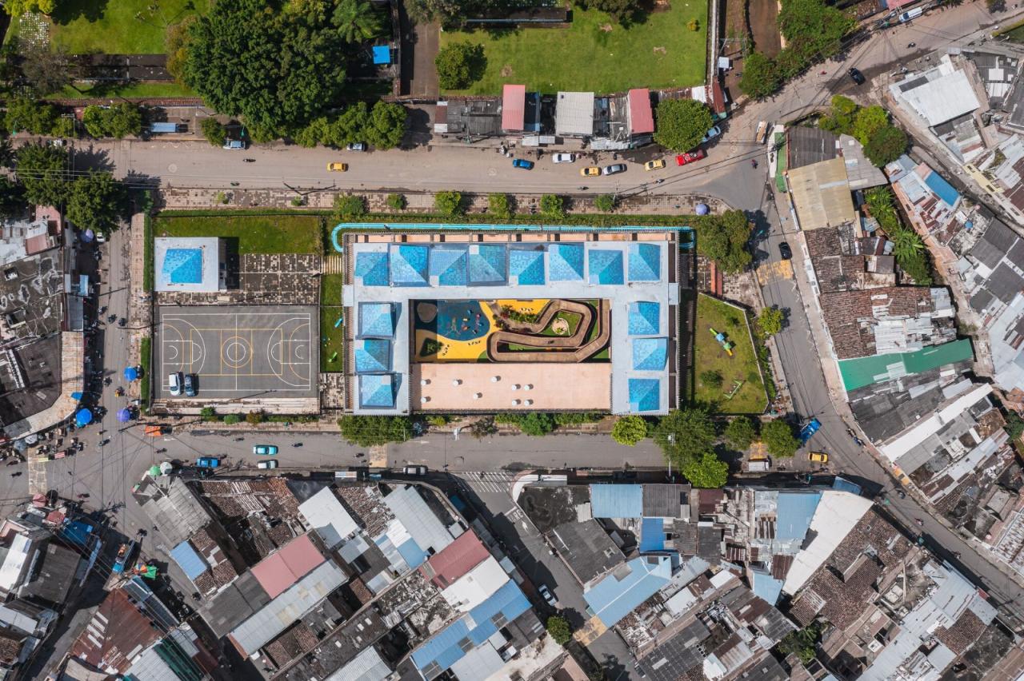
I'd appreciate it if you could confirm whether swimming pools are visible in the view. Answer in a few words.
Yes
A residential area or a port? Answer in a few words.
residential area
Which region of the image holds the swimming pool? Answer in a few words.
center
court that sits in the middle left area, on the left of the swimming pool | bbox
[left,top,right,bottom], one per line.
[153,305,318,397]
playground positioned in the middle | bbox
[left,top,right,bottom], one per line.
[413,301,549,364]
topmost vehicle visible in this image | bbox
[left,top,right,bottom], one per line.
[897,5,924,23]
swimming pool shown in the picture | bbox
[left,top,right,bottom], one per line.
[413,301,489,340]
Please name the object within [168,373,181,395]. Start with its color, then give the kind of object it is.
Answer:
white vehicle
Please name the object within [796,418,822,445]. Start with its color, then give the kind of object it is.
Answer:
blue truck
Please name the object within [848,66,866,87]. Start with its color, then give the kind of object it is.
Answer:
black car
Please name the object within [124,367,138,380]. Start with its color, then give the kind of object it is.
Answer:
blue umbrella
